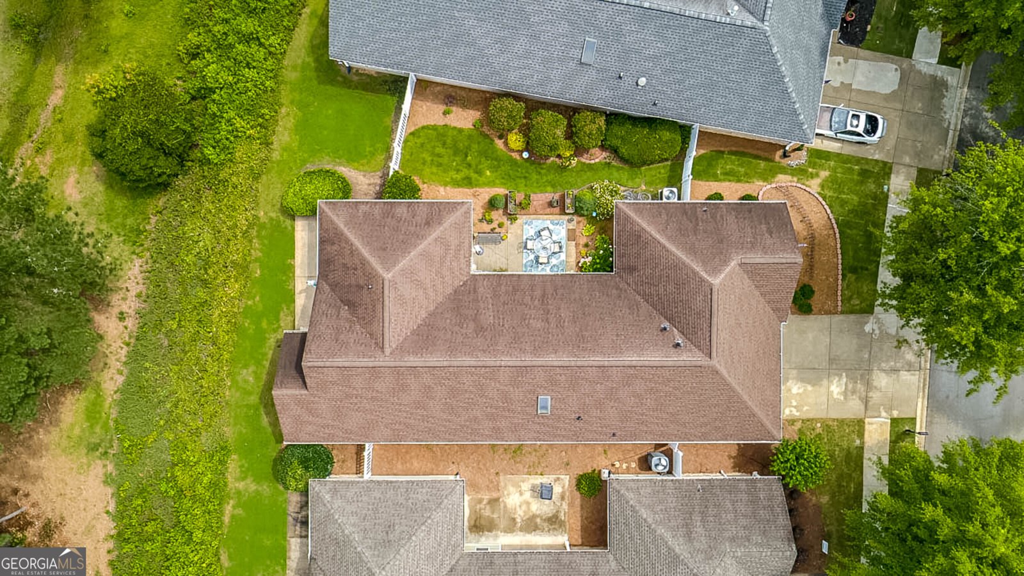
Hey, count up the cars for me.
1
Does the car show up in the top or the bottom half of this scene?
top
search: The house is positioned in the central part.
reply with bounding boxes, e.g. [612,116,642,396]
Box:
[272,199,802,445]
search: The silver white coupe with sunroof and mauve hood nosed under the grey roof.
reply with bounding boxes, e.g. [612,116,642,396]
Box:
[814,100,891,145]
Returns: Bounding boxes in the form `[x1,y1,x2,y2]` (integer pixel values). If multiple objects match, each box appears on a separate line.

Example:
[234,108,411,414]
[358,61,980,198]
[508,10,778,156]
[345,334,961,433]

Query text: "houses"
[272,199,802,445]
[319,0,845,155]
[308,469,795,576]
